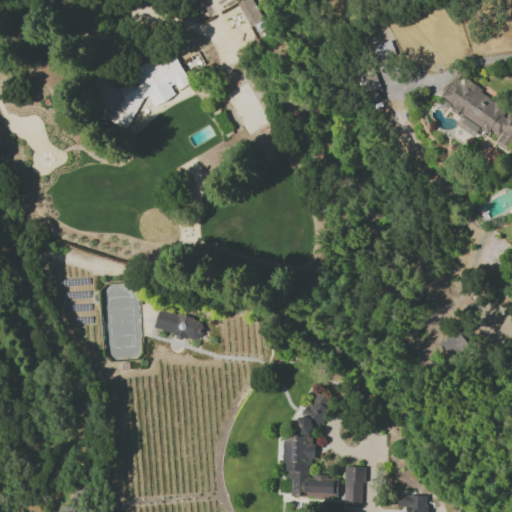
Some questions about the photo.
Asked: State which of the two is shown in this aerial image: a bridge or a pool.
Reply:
pool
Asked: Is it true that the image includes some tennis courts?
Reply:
Yes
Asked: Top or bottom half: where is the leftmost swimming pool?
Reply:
top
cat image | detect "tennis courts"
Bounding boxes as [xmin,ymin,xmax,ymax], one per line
[106,284,143,360]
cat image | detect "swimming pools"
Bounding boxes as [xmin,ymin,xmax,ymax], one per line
[490,190,512,217]
[434,109,457,130]
[190,126,216,147]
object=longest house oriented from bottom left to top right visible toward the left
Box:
[112,59,191,126]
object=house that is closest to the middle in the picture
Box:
[155,311,201,342]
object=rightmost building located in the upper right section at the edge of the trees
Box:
[437,74,512,151]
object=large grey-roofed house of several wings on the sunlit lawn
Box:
[284,394,340,499]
